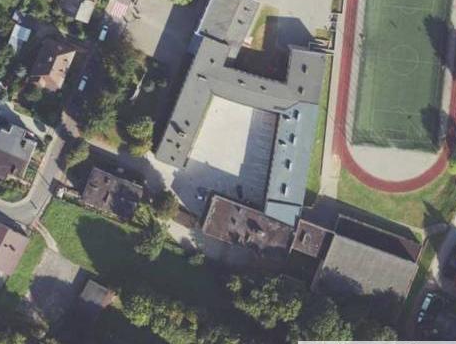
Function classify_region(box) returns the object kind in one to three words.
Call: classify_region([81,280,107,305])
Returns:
building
